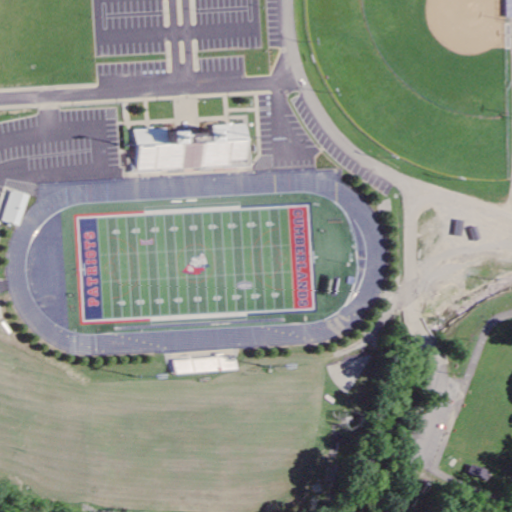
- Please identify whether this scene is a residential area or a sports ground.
sports ground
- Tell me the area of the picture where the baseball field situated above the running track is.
top right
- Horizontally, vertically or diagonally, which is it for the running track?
horizontally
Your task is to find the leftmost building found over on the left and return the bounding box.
[0,190,30,227]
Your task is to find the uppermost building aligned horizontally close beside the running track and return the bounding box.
[131,121,250,146]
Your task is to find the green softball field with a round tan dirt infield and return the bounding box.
[307,0,512,180]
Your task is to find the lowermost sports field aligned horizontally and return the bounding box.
[61,193,366,332]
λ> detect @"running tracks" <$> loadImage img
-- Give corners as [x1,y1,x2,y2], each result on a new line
[8,170,381,355]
